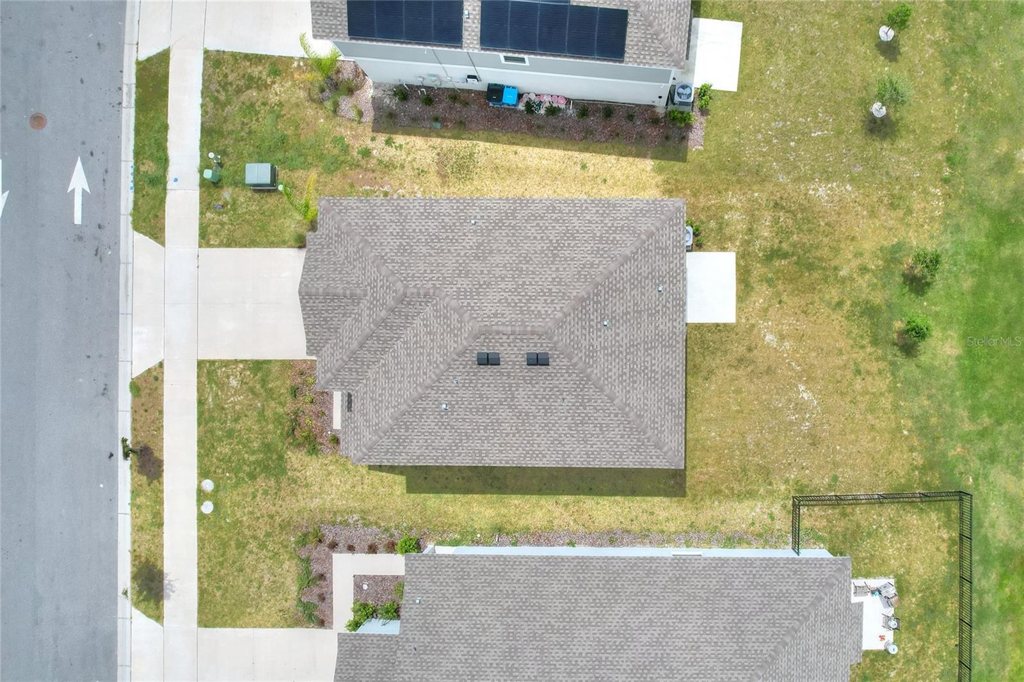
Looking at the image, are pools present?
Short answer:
No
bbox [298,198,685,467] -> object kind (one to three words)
house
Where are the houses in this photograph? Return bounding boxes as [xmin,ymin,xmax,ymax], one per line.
[311,0,691,106]
[298,198,685,467]
[333,545,861,682]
